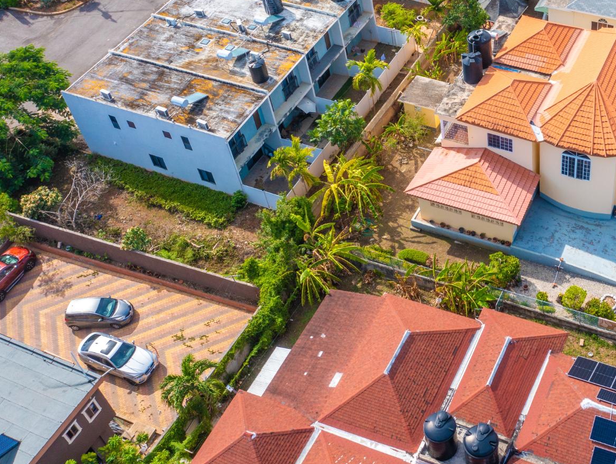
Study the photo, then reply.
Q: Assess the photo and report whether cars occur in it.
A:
Yes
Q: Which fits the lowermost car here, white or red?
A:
white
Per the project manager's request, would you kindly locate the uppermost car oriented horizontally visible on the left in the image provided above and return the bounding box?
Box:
[56,291,136,329]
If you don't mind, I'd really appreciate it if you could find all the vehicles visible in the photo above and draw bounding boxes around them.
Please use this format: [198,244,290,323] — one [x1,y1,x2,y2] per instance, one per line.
[0,238,40,297]
[56,291,136,329]
[73,325,159,384]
